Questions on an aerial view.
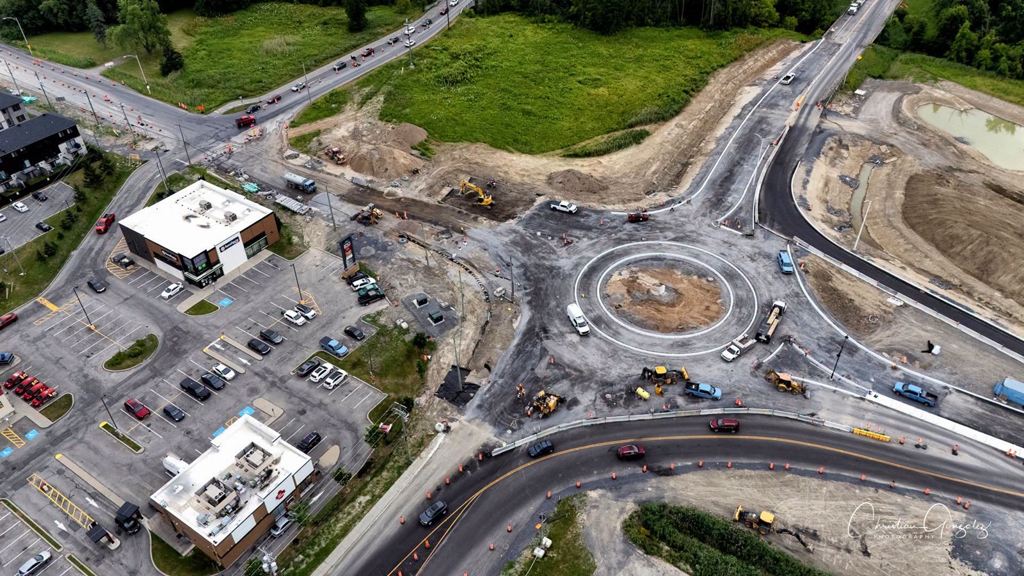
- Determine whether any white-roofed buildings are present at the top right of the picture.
No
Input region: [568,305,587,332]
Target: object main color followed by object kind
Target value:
white vehicle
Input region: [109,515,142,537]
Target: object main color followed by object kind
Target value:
black car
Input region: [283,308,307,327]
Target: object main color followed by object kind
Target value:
white car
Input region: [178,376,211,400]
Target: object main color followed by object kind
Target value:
black truck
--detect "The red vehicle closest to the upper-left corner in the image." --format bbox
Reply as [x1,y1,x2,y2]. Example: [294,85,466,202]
[93,213,117,232]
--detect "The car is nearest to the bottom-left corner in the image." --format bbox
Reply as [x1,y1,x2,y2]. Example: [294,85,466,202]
[13,546,56,576]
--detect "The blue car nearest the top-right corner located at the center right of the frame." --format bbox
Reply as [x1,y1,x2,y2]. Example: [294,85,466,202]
[778,253,793,272]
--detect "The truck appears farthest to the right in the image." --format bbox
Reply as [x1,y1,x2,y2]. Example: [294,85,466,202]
[987,377,1024,404]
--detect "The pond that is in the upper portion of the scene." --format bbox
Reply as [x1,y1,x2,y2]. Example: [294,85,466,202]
[916,102,1024,171]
